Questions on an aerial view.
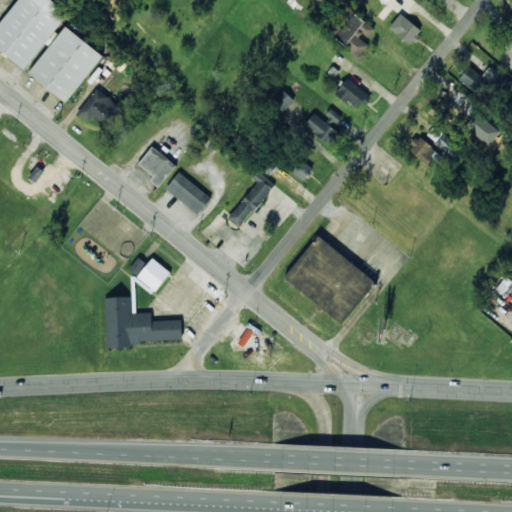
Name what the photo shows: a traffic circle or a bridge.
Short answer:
bridge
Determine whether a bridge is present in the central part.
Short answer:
No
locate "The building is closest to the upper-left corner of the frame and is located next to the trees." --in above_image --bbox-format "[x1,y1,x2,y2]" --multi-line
[0,0,62,70]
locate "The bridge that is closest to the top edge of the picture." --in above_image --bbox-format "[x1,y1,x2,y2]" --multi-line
[276,444,408,480]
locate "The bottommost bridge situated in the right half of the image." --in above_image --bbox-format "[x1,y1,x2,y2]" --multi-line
[276,492,404,512]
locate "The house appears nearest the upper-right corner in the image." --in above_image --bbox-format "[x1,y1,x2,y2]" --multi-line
[460,66,485,90]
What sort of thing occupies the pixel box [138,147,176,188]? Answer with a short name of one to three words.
building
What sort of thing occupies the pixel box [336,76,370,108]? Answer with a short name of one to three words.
house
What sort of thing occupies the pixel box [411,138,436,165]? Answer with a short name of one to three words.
house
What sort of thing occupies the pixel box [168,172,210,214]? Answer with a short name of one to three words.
building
